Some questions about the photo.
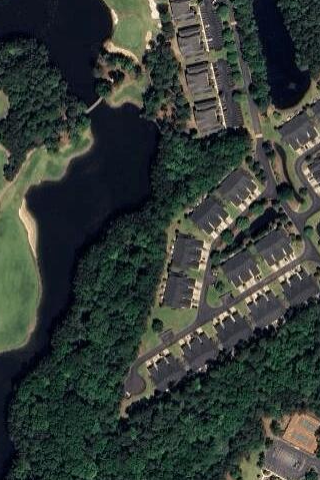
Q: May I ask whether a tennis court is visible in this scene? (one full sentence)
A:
Yes, there is a tennis court in the image.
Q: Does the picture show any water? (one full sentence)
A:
Yes, some water is visible.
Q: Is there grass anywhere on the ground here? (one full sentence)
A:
Yes, there's grass in this view.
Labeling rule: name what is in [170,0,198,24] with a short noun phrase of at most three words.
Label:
building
